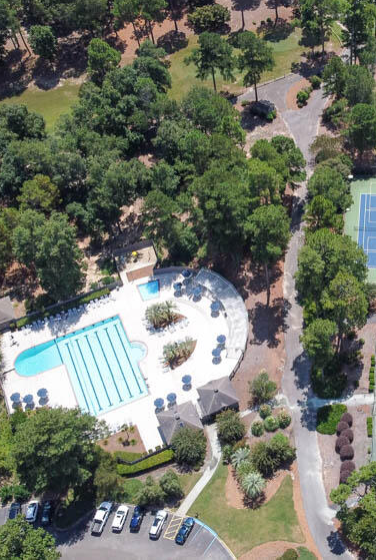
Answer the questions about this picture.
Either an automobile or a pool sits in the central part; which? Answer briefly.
pool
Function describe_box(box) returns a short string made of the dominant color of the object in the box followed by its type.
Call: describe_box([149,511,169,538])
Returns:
white car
